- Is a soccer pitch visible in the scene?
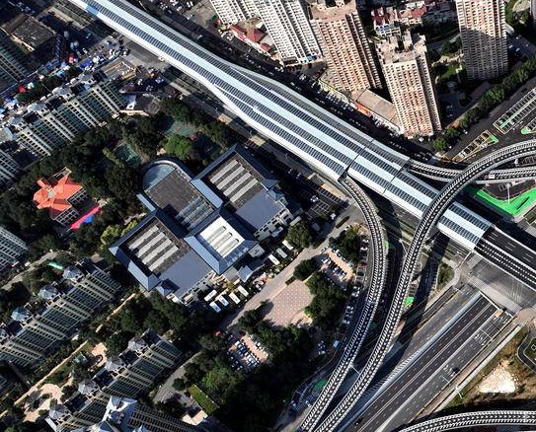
No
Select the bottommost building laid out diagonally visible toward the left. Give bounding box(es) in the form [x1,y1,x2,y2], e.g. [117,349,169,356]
[56,322,181,424]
